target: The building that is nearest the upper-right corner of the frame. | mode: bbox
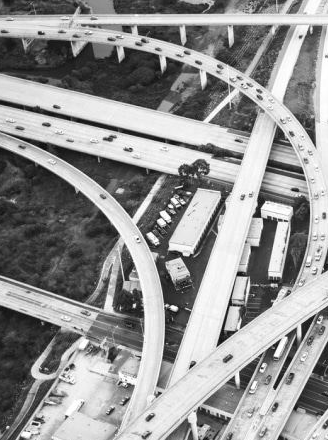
[260,200,292,223]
